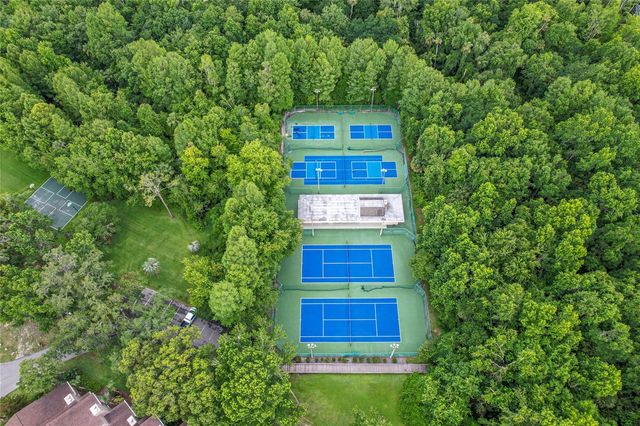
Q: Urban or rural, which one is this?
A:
rural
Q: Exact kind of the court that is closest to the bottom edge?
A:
tennis court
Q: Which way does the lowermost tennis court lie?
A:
horizontally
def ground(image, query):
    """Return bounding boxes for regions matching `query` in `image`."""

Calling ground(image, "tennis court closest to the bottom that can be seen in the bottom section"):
[299,294,401,346]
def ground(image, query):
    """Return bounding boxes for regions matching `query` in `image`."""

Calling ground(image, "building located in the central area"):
[298,194,404,229]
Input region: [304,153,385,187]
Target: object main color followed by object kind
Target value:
blue tennis court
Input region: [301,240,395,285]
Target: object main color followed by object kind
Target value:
blue tennis court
